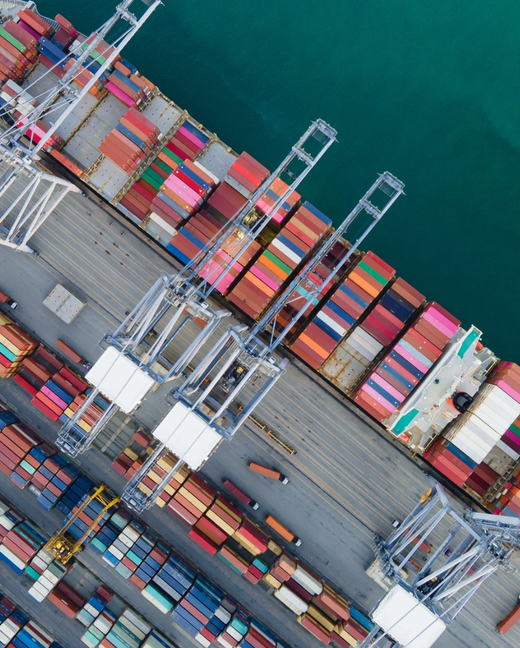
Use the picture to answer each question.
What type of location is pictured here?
port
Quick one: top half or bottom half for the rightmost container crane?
bottom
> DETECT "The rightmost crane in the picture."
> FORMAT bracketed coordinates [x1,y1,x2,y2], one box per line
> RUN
[348,464,520,648]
